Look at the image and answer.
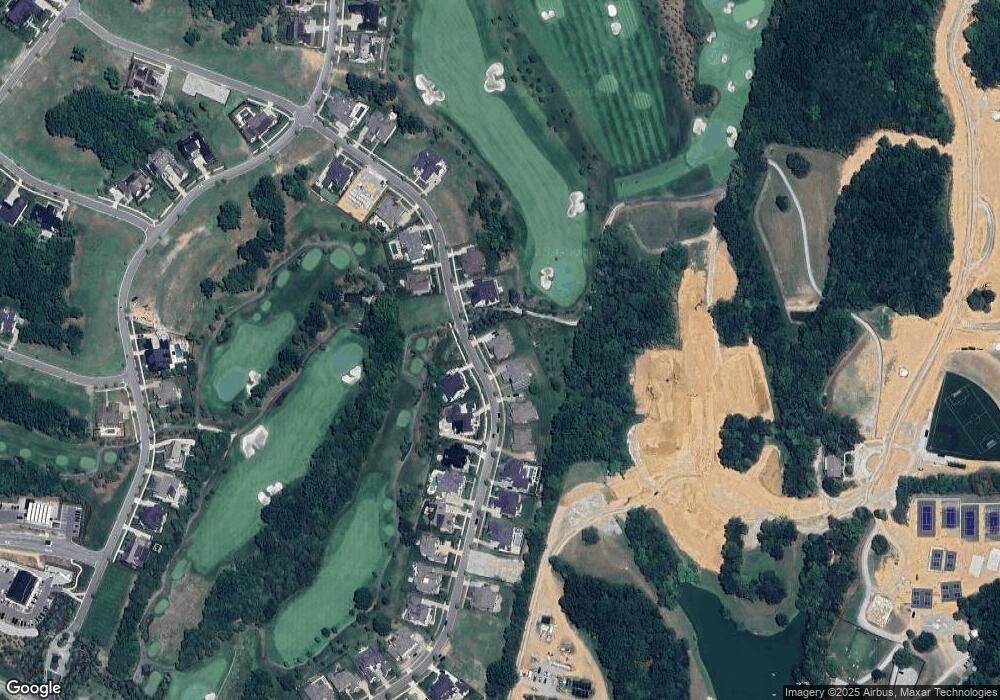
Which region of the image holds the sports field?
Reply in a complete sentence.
The sports field is in the right part of the image.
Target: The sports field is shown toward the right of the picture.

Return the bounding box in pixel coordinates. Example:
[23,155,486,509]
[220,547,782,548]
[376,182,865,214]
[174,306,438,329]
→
[928,371,1000,461]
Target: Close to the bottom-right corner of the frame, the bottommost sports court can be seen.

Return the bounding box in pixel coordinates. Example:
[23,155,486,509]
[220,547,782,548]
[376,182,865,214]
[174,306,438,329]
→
[888,666,920,700]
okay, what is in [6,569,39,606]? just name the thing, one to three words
building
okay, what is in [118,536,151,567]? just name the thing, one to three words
house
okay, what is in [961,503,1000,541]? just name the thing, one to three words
tennis court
